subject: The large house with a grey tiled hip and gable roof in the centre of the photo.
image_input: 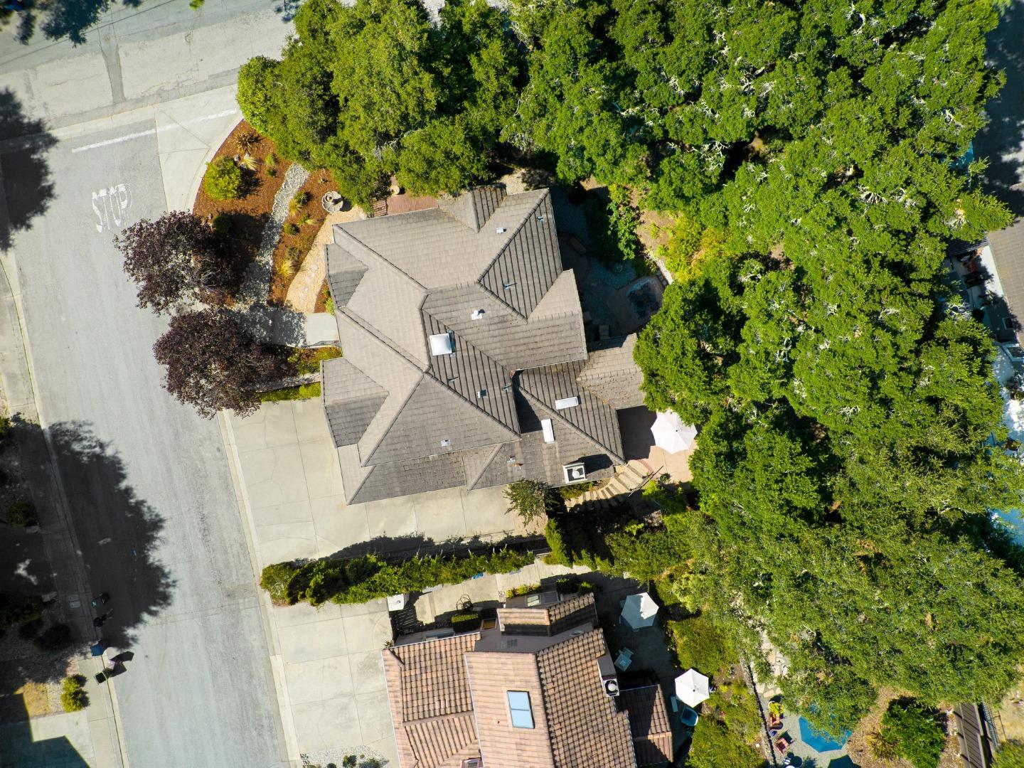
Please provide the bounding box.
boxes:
[320,183,649,507]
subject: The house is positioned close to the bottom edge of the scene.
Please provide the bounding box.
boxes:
[381,578,674,768]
